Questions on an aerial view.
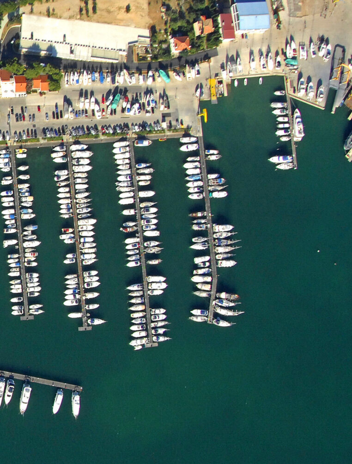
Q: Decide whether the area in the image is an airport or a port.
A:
port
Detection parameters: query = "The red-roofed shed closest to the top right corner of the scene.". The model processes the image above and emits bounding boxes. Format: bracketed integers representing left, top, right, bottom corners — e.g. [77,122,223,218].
[216,13,237,41]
